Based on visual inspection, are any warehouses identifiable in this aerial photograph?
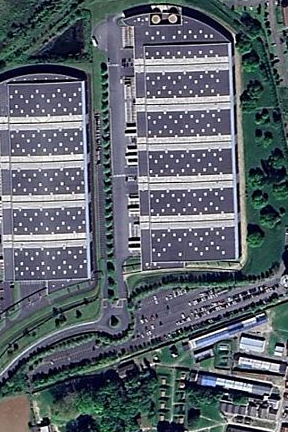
Yes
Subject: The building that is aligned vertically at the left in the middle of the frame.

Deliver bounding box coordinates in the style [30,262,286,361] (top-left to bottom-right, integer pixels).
[0,71,97,295]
